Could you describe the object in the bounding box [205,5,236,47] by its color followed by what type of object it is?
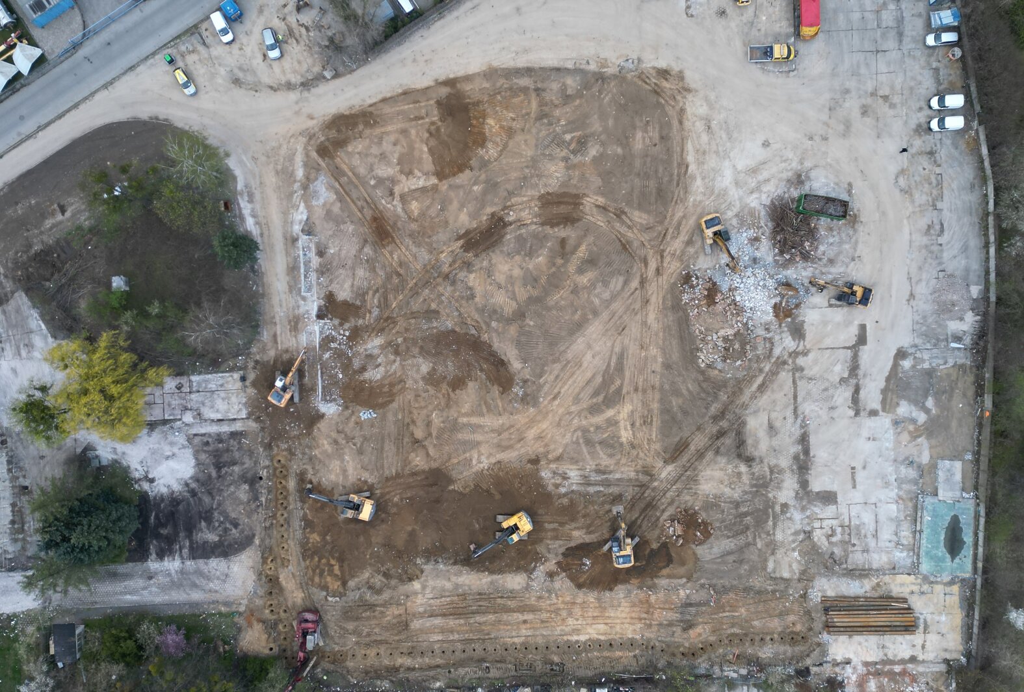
white van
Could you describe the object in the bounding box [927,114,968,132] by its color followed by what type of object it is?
white vehicle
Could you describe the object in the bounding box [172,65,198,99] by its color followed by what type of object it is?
white car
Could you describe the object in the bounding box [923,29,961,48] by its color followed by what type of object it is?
white car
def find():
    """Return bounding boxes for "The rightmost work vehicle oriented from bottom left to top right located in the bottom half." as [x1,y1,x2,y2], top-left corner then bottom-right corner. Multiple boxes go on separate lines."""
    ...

[459,510,537,562]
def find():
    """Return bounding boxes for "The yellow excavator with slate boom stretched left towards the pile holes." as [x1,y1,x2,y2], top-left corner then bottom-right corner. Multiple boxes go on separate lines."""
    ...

[297,485,378,526]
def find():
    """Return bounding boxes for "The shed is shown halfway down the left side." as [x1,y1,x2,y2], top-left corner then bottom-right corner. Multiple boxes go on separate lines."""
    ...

[111,276,135,291]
